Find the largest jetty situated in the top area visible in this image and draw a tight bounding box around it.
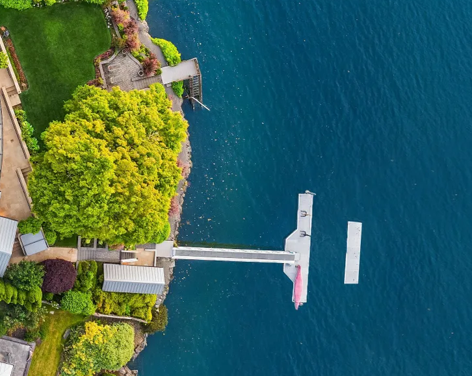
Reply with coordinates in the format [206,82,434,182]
[162,58,200,83]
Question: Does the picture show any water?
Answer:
Yes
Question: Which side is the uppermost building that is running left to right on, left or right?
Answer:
left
